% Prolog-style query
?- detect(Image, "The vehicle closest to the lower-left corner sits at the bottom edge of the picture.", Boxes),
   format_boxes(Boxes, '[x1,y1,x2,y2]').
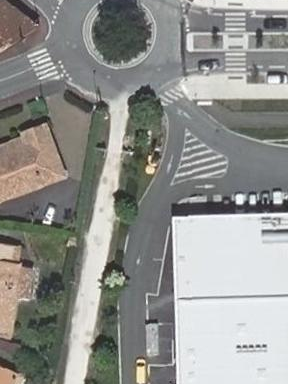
[135,358,147,384]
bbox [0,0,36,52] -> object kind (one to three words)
house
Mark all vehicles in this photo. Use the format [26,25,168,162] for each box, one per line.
[212,195,222,215]
[248,194,258,214]
[198,60,220,70]
[260,193,272,214]
[180,196,208,208]
[43,205,56,225]
[146,154,156,175]
[264,18,287,29]
[222,198,232,215]
[235,194,246,214]
[273,192,284,214]
[135,358,147,384]
[266,73,288,84]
